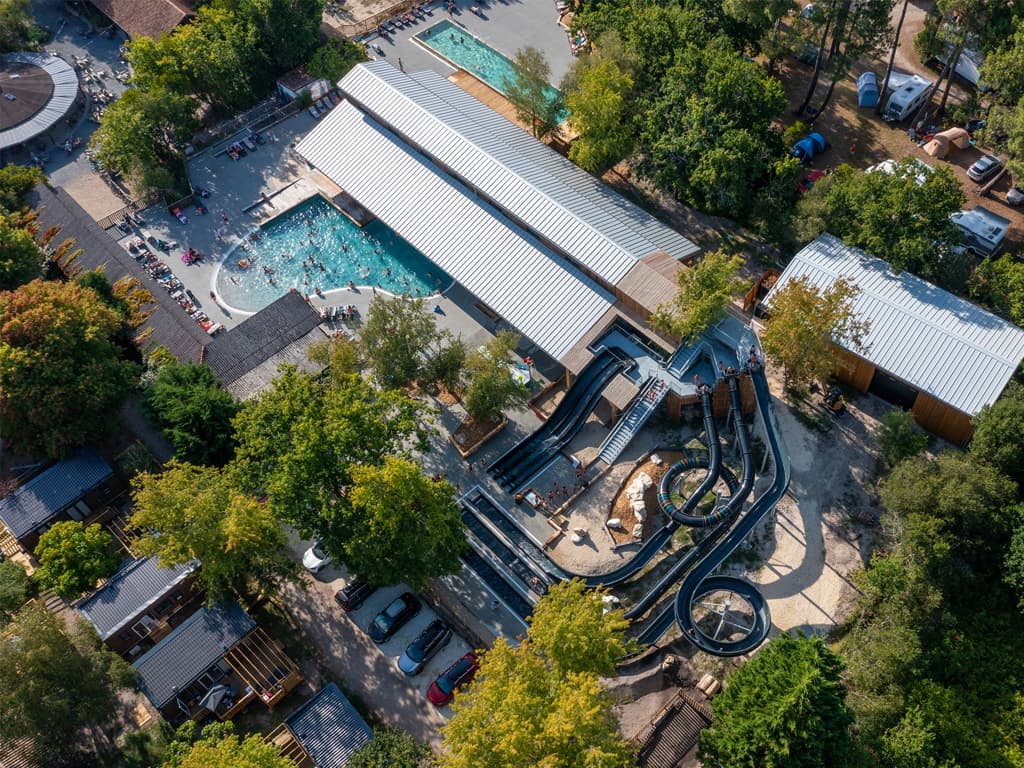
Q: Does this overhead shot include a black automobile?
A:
Yes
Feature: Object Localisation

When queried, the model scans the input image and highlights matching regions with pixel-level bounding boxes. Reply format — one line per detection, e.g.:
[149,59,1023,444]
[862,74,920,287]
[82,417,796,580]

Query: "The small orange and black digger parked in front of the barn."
[821,387,866,412]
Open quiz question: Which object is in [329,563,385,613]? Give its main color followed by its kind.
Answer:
black car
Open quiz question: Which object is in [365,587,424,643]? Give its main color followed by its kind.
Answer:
black car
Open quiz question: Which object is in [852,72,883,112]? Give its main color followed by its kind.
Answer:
blue tent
